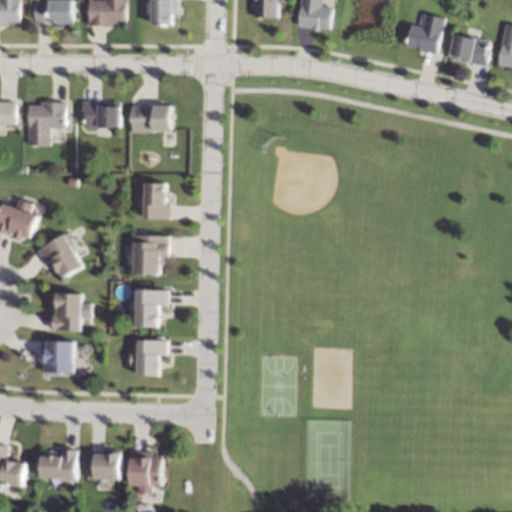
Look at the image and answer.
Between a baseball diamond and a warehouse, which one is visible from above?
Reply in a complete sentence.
The image shows a baseball diamond.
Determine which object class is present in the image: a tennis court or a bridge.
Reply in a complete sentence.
Looking from above, you can make out a tennis court.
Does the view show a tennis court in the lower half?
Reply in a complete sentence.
Yes, a tennis court can be seen in the lower half.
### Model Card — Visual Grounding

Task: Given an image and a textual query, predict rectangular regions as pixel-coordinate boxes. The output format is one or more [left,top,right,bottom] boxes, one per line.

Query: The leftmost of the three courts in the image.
[261,356,298,416]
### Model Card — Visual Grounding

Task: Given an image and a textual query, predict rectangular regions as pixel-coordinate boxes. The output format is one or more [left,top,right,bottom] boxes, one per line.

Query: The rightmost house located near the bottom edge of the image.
[124,456,162,490]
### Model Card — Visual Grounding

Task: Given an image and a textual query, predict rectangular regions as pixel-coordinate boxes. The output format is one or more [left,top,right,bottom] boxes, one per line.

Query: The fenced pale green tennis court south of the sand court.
[306,420,352,502]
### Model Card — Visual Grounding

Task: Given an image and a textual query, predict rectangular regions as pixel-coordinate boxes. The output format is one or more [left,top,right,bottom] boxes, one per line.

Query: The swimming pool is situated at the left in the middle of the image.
[116,286,130,300]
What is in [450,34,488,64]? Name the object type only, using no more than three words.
house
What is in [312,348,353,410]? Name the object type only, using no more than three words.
sports court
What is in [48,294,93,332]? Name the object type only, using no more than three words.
house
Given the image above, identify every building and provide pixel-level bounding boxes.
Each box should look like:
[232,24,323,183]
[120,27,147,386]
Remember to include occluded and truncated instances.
[137,340,172,378]
[90,452,122,482]
[498,22,512,66]
[80,100,122,128]
[297,0,334,32]
[136,290,174,328]
[36,450,80,480]
[260,0,282,20]
[406,10,450,54]
[450,34,488,64]
[128,104,172,134]
[0,200,36,238]
[28,102,66,148]
[134,236,171,276]
[48,294,93,332]
[34,0,74,26]
[26,340,76,374]
[0,446,24,487]
[0,0,22,26]
[87,0,128,27]
[144,183,174,222]
[0,102,19,136]
[40,234,87,281]
[150,0,178,28]
[124,456,162,490]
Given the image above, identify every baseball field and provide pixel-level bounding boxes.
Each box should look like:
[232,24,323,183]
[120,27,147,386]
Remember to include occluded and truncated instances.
[274,146,338,215]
